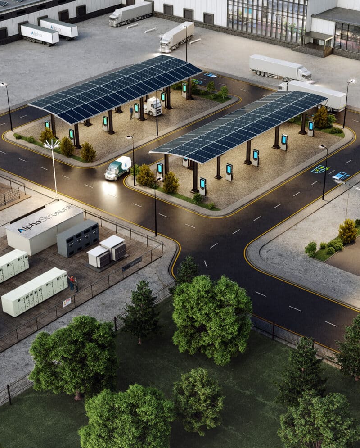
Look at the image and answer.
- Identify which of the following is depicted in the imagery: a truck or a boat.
truck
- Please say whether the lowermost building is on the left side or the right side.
left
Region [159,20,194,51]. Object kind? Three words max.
truck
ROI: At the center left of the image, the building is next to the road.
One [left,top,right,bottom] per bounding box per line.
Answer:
[4,199,84,254]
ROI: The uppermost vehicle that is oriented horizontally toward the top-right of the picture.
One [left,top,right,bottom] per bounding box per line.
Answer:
[248,53,312,82]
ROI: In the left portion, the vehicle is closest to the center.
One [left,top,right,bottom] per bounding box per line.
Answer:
[101,151,136,180]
